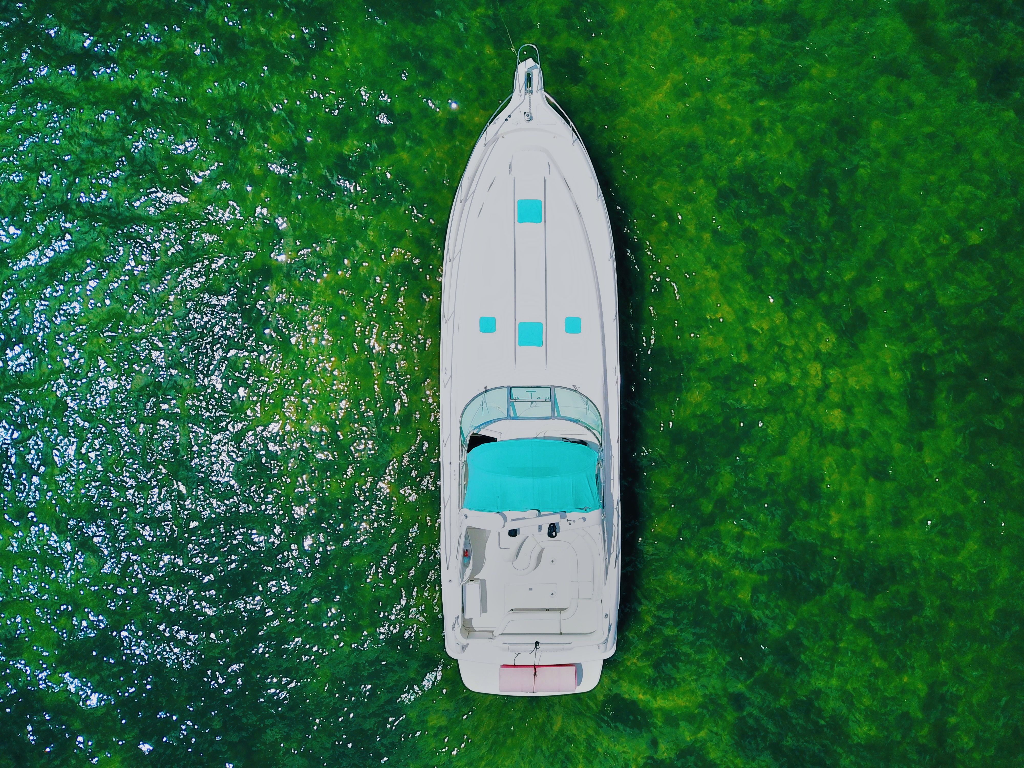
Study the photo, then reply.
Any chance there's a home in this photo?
No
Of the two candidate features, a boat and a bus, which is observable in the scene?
boat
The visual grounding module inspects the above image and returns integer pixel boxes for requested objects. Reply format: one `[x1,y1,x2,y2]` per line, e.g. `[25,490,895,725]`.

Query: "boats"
[439,43,622,696]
